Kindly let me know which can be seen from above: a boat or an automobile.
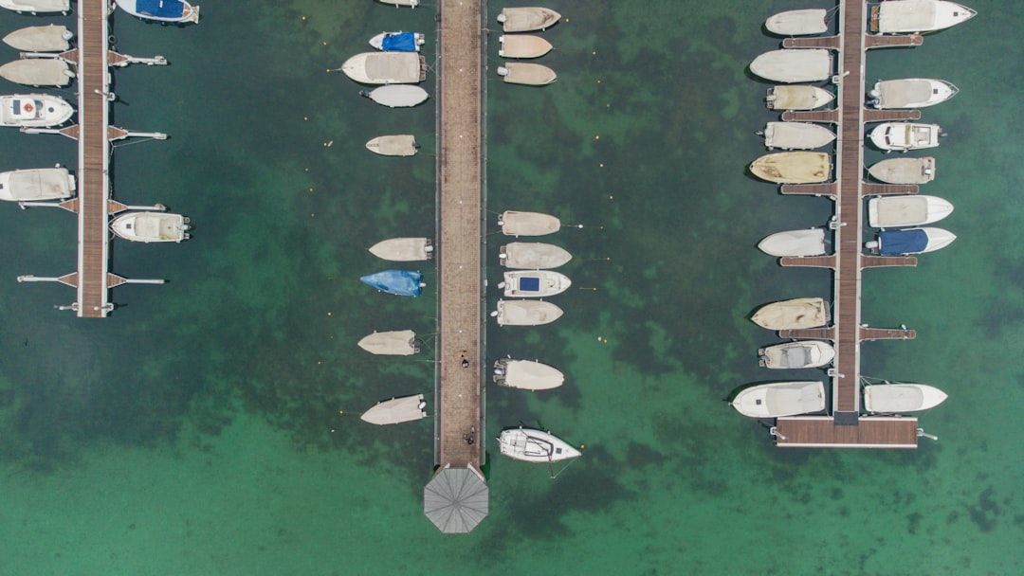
boat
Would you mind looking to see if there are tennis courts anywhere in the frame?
No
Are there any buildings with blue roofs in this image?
No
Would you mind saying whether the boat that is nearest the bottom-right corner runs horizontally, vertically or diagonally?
horizontally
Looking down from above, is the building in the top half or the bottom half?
bottom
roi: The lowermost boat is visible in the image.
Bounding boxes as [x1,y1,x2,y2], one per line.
[497,426,582,477]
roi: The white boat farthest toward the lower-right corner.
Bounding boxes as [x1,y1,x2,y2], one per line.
[859,380,949,416]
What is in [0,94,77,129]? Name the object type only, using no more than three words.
boat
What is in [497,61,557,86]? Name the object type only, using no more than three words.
boat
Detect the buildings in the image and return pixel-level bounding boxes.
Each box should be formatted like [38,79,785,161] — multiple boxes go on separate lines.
[424,461,489,534]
